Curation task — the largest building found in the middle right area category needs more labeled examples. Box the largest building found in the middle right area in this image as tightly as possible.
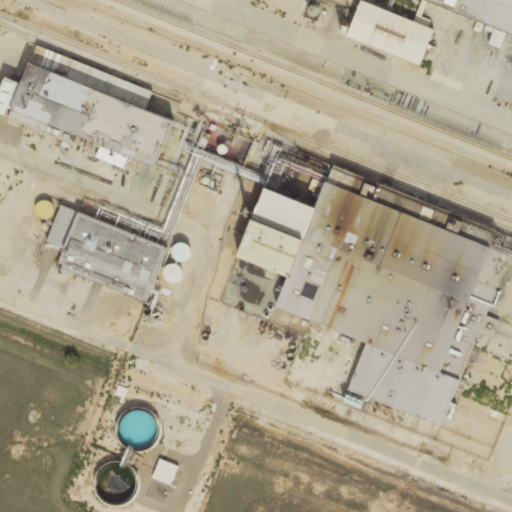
[277,182,494,426]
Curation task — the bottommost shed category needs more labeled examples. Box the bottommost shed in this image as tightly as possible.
[152,459,179,485]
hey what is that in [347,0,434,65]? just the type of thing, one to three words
building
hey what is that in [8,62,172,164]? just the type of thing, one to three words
building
